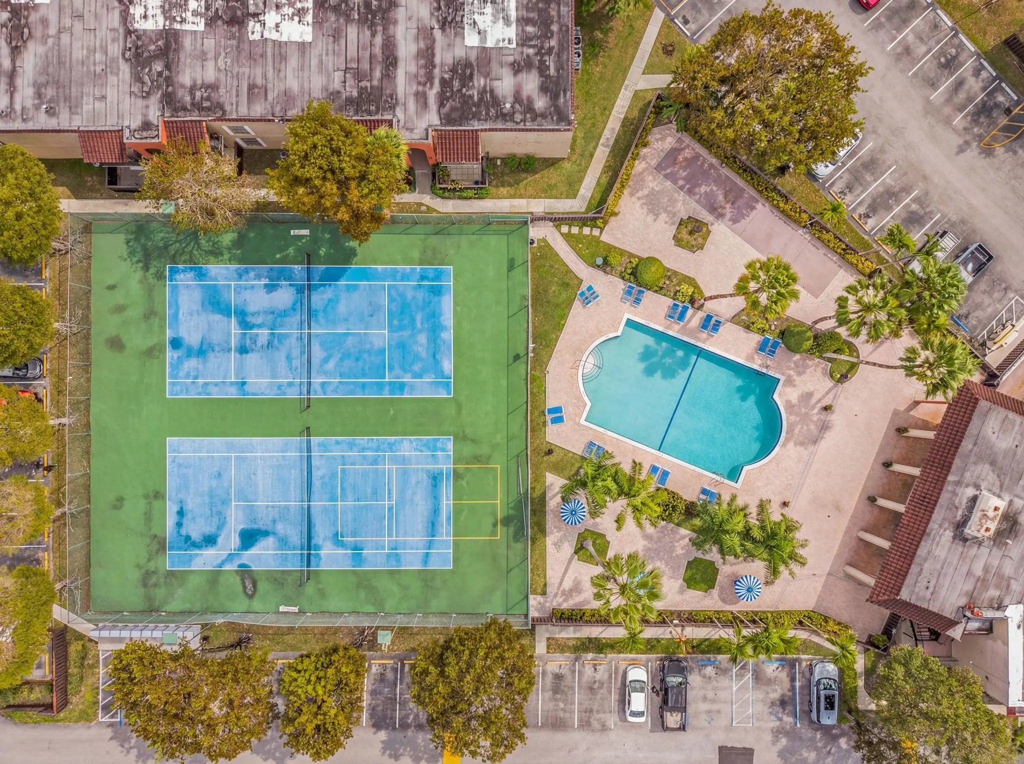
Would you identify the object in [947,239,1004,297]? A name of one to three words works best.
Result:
truck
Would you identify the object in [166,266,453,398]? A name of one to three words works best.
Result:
tennis court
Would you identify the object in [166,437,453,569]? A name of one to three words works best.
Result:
tennis court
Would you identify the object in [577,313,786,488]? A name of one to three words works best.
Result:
swimming pool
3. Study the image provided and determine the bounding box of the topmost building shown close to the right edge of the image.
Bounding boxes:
[842,381,1024,641]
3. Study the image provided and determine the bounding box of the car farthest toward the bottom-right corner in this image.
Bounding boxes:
[813,664,845,727]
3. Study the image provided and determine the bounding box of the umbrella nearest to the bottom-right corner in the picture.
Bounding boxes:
[734,575,760,601]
